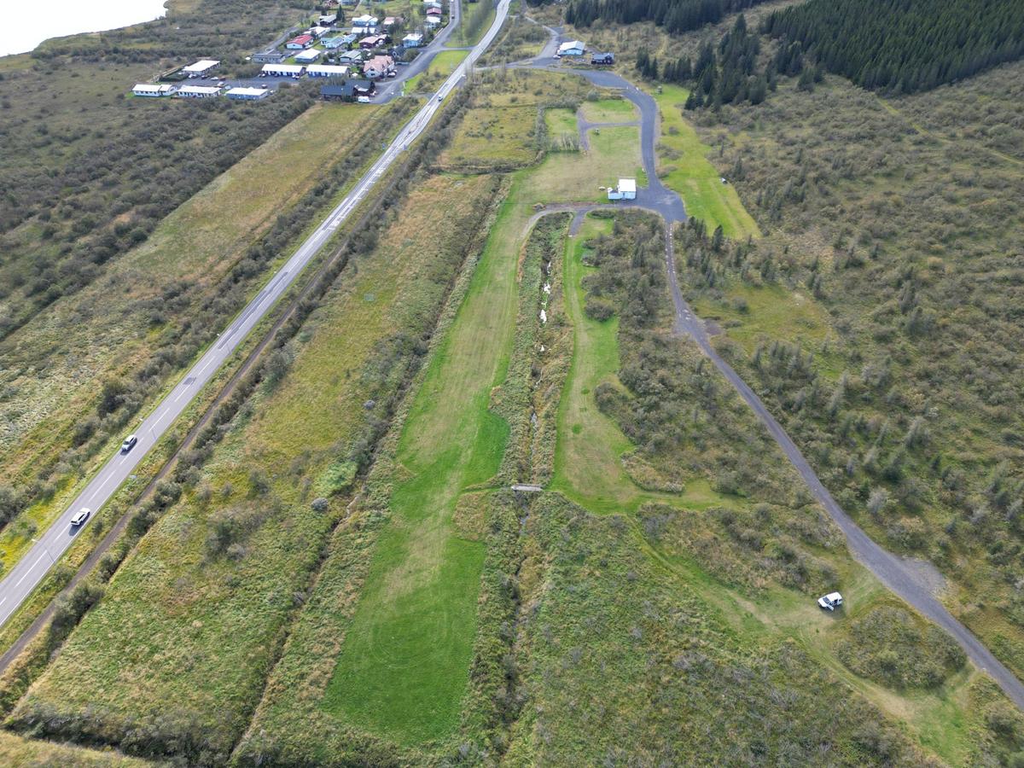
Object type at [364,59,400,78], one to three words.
house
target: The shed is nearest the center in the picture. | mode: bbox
[606,181,637,200]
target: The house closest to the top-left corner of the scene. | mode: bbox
[130,84,180,97]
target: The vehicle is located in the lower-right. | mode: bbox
[818,591,844,610]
